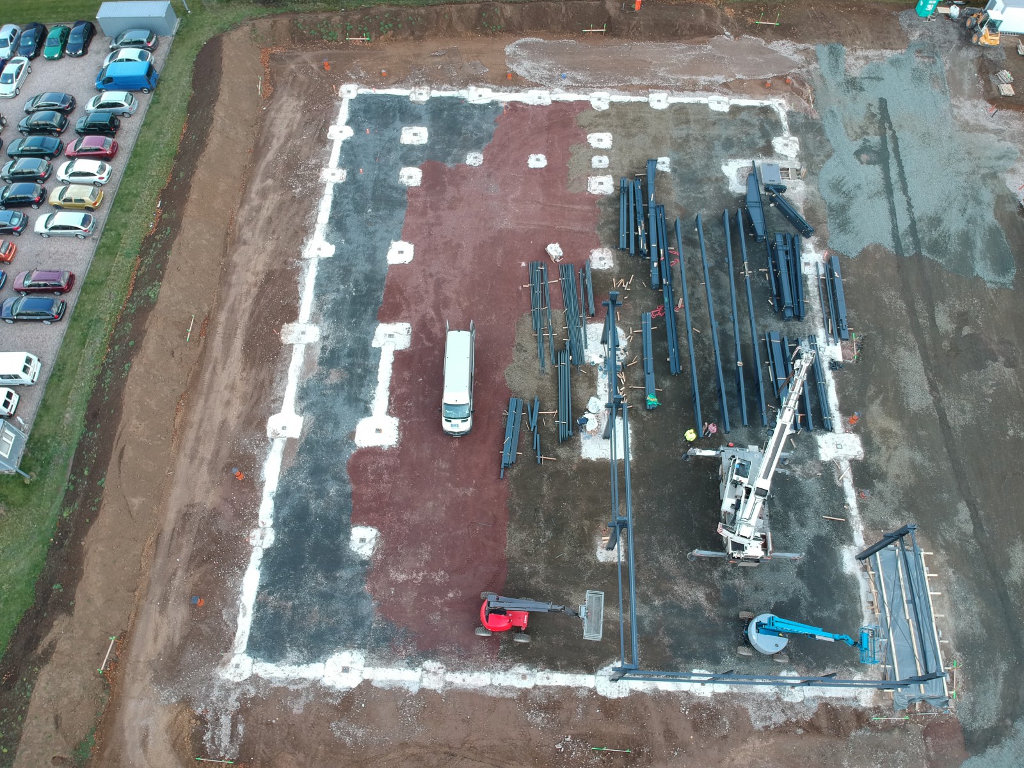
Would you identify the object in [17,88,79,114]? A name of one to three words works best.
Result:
car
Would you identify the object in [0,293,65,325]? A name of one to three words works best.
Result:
car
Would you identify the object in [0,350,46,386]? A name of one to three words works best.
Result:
van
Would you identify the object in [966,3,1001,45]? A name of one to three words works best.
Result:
work vehicle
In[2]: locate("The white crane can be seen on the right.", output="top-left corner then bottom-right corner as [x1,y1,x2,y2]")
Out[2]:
[681,344,821,577]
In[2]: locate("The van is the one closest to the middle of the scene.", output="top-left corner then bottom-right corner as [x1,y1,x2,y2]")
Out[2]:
[439,314,478,426]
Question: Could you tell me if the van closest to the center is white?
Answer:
Yes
